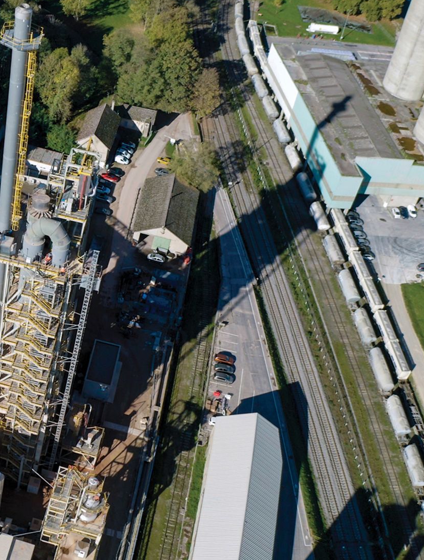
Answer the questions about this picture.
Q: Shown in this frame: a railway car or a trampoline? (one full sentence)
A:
Of the two, only a railway car appears.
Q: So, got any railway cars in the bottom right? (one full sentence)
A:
Yes, you'll find a railway car in the bottom right.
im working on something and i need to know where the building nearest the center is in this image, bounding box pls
[131,169,201,253]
